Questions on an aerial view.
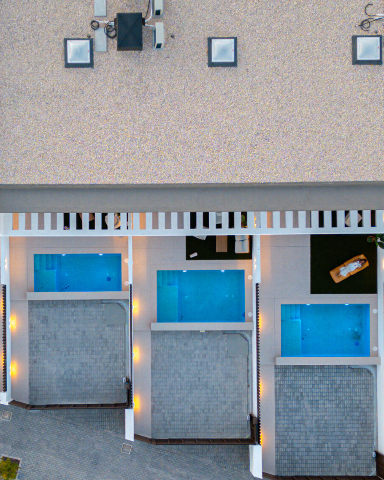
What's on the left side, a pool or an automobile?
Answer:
pool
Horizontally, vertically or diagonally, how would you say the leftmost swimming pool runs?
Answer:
horizontally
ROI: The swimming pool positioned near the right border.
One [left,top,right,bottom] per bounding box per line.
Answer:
[274,304,378,365]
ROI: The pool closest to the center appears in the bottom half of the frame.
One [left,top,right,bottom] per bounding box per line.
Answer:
[151,270,252,330]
